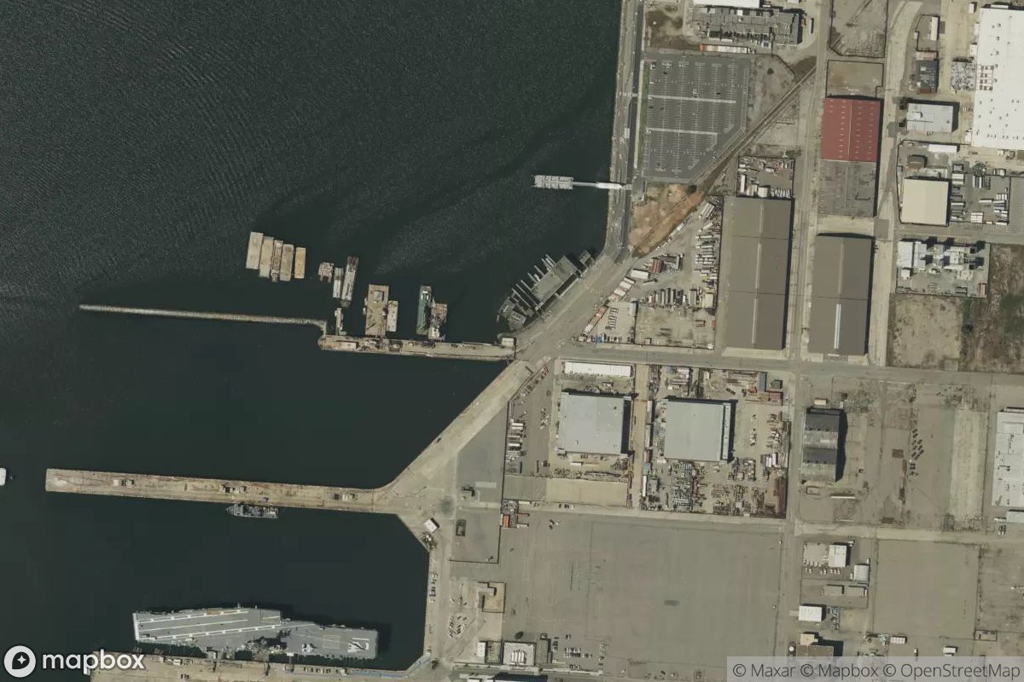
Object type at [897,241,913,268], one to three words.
building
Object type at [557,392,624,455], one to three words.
shed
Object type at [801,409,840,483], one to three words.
hangar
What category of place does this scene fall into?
port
